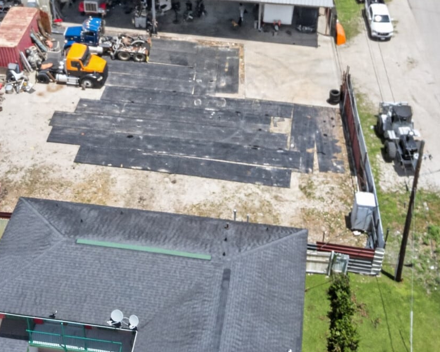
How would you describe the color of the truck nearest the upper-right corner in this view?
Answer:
white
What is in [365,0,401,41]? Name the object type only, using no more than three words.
truck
